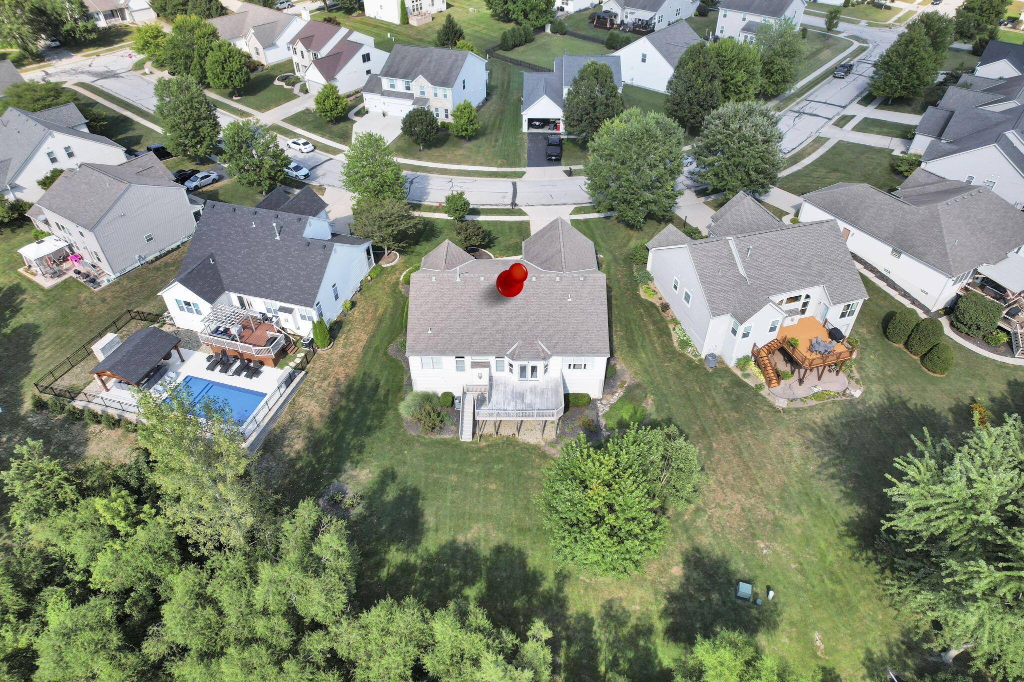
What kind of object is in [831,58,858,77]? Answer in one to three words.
vehicle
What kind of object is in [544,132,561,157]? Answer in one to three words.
vehicle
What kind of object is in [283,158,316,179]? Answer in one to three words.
car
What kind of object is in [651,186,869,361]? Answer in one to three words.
house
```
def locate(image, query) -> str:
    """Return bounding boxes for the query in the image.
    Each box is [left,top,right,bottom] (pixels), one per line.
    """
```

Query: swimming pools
[169,375,270,428]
